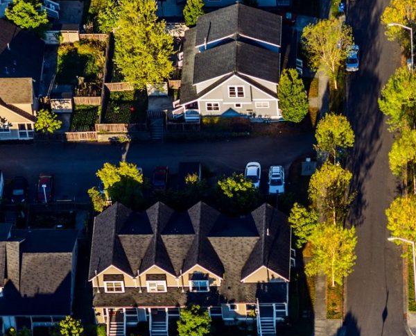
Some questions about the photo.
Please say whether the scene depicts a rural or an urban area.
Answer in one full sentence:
The area is urban.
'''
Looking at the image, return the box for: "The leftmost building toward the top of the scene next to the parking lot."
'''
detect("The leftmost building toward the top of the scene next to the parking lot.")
[0,15,52,138]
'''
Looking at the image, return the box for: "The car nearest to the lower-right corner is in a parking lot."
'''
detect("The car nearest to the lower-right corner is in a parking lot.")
[268,167,285,195]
